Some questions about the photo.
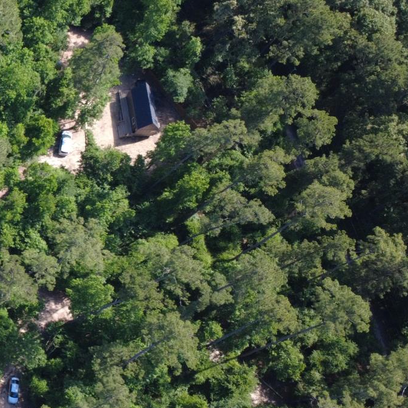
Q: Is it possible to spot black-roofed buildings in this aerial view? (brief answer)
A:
Yes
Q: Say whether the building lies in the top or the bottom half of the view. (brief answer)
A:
top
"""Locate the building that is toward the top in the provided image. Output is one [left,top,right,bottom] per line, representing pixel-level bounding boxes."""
[111,82,160,135]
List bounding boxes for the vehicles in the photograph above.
[6,374,21,407]
[57,130,73,157]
